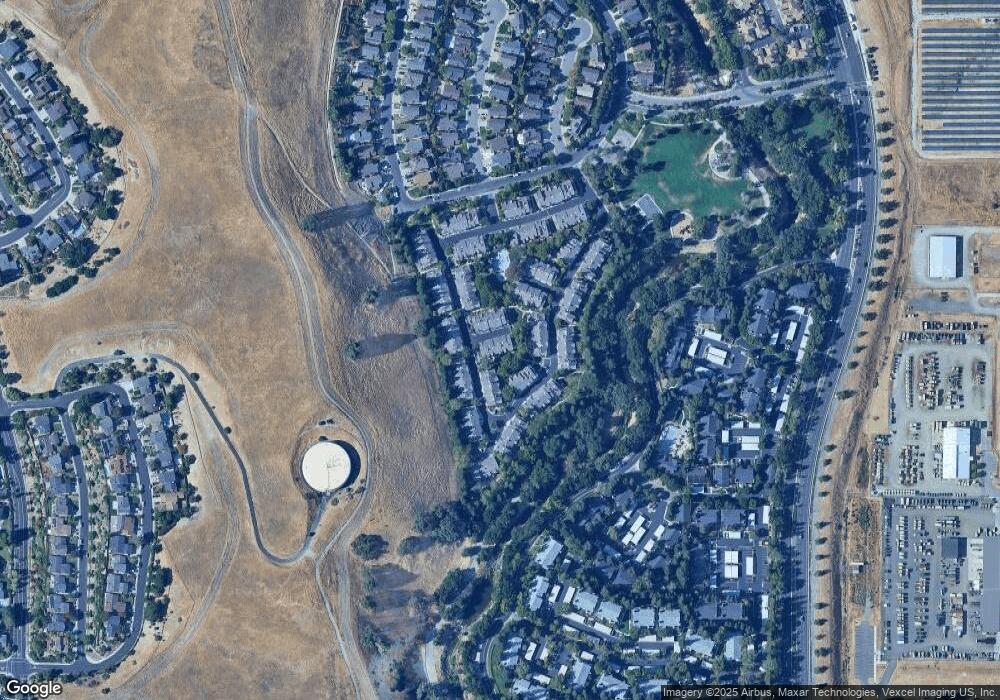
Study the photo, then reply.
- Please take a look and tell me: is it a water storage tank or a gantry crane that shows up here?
water storage tank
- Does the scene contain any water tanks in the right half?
No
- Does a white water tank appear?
Yes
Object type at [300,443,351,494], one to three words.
water tank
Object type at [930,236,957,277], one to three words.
building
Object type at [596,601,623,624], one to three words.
building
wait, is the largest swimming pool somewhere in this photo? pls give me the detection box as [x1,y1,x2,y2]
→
[660,425,694,459]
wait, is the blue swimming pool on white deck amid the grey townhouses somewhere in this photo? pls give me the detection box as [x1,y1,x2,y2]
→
[495,250,514,273]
